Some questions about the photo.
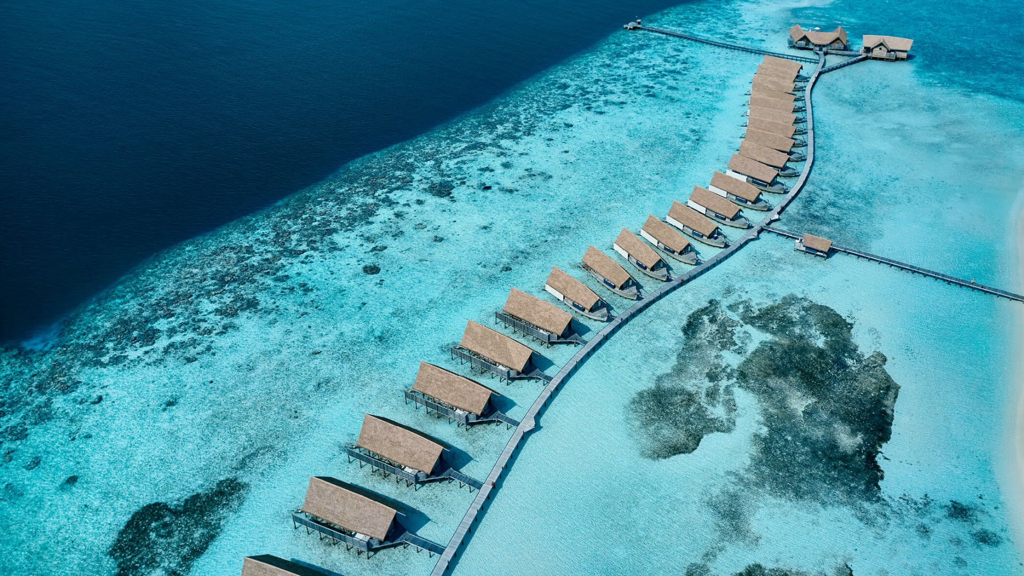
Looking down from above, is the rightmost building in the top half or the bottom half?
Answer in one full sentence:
It is in the top half that the rightmost building appears.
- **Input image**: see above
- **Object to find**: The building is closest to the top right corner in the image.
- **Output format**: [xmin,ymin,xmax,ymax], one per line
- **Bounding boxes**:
[854,35,914,66]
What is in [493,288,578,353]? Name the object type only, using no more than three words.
house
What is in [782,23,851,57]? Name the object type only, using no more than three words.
building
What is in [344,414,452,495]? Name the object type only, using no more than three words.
house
